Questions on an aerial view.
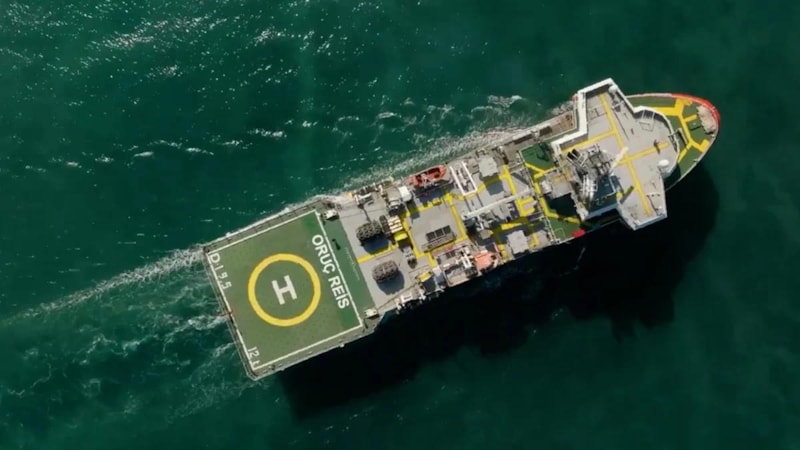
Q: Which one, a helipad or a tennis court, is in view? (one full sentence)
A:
Looking from above, you can make out a helipad.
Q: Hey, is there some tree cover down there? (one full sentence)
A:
No, no tree cover is visible.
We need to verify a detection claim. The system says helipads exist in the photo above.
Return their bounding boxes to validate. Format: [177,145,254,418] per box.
[198,197,375,378]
